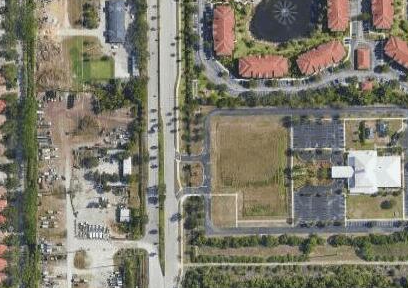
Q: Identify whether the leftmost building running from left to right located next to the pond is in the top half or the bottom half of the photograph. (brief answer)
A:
top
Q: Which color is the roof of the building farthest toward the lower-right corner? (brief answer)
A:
white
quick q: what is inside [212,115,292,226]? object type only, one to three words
sports field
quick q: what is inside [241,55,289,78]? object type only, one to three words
building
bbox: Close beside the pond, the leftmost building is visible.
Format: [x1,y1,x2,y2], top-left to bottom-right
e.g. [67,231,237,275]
[214,7,235,55]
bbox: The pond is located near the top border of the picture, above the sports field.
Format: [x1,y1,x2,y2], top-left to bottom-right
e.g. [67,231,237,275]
[251,0,317,42]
